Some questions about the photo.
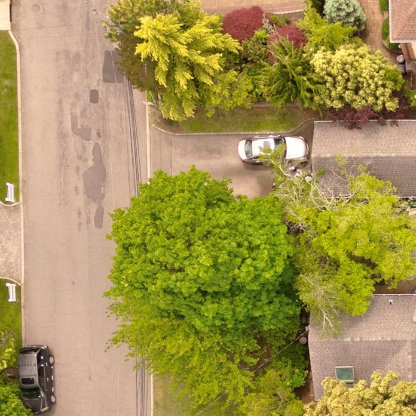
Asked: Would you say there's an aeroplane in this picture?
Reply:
No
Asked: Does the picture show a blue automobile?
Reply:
No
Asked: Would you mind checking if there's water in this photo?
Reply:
No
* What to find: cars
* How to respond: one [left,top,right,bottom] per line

[238,134,310,166]
[19,345,57,412]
